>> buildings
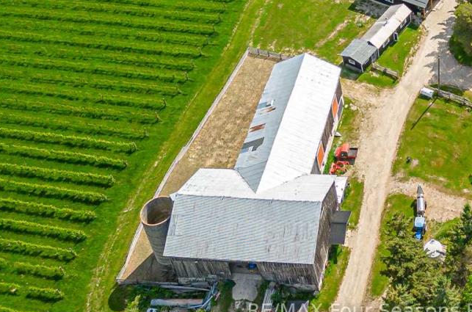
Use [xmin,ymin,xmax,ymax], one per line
[162,47,353,290]
[340,5,418,80]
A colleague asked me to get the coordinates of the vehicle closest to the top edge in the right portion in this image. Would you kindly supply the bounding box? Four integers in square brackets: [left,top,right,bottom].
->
[331,145,362,163]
